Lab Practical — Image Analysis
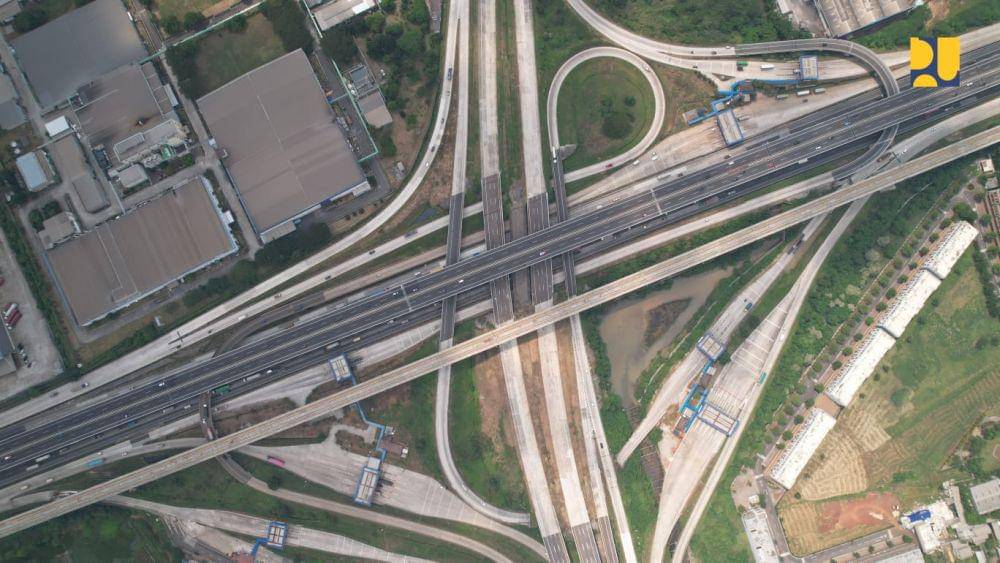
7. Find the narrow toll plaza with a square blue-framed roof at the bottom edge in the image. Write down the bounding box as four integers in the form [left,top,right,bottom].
[194,509,429,563]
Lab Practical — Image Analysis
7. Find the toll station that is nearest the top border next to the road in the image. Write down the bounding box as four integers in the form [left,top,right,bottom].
[652,54,848,91]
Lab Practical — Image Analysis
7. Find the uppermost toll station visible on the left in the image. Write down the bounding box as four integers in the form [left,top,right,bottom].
[275,322,432,404]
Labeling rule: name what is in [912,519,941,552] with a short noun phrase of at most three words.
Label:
house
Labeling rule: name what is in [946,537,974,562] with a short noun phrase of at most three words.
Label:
house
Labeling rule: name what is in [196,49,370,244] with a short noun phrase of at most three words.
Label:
building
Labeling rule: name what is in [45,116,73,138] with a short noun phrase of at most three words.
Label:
building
